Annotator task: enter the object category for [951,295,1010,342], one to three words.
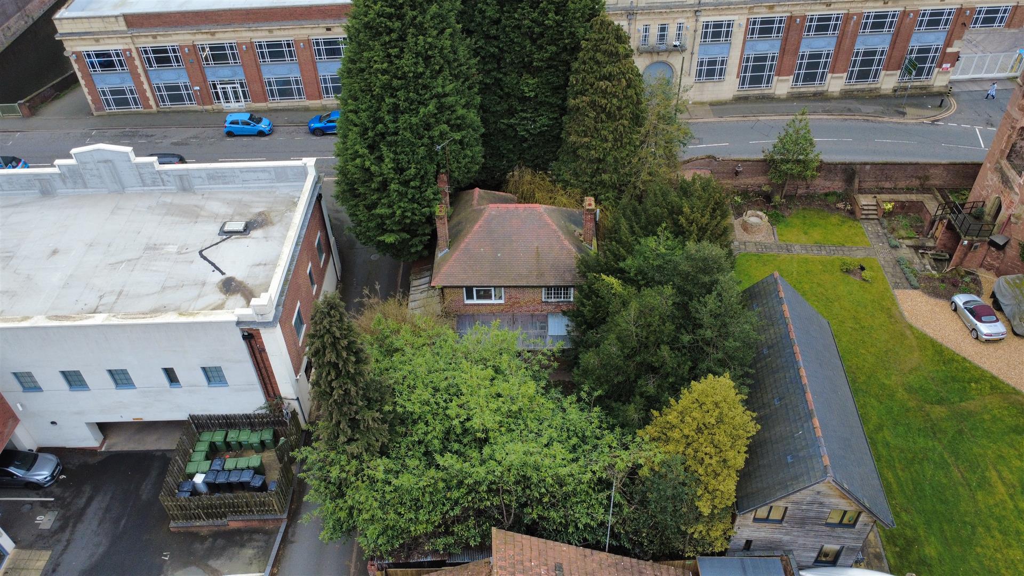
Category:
car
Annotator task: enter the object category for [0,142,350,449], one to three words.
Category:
building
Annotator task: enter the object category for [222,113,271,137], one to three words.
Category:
car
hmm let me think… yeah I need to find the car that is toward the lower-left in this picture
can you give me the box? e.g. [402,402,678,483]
[0,445,61,490]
